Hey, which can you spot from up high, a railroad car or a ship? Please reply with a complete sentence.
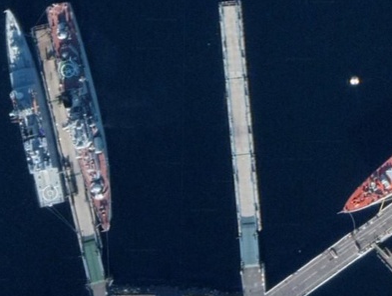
This aerial view contains a ship.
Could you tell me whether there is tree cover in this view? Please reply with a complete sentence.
No, the scene doesn't show any tree cover.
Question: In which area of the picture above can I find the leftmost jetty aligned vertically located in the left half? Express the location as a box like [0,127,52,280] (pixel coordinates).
[30,20,98,240]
